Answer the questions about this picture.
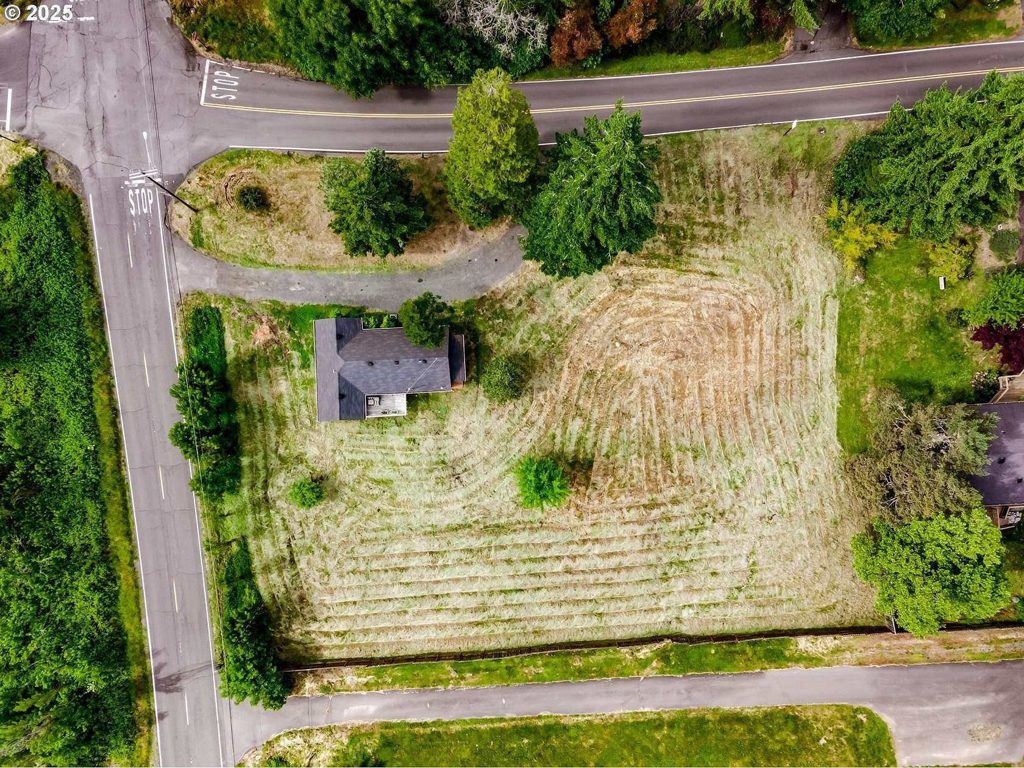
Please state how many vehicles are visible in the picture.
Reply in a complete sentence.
Not a single vehicle can be seen.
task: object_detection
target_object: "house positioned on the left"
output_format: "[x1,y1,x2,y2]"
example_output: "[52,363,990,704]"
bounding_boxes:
[314,316,467,422]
